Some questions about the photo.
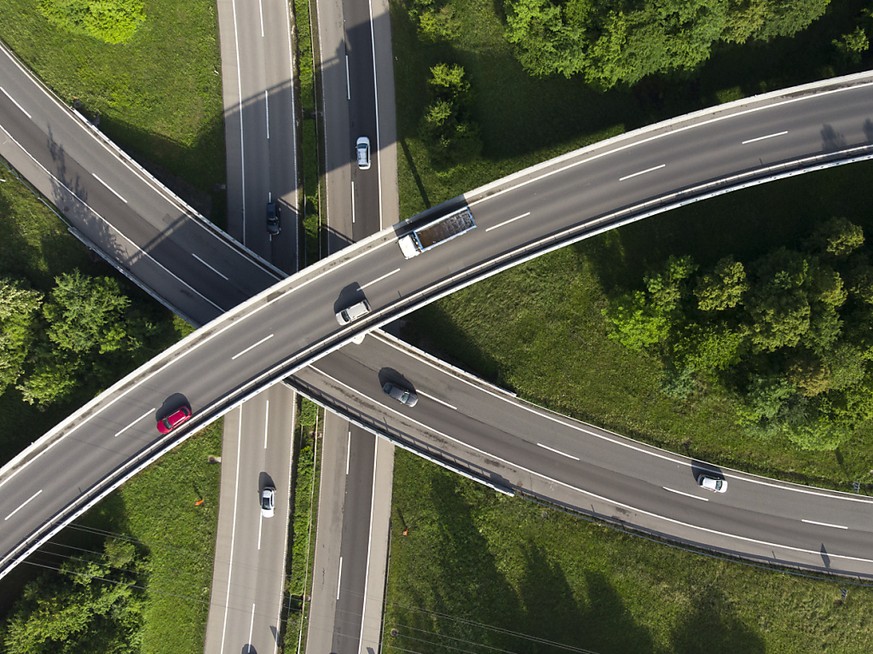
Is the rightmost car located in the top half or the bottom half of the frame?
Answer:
bottom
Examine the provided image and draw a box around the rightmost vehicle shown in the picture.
[697,472,728,492]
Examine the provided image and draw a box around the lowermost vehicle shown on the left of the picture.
[259,487,276,518]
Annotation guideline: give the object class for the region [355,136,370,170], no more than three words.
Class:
car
